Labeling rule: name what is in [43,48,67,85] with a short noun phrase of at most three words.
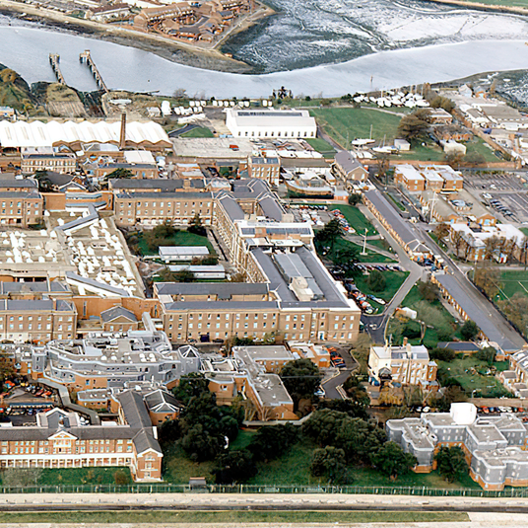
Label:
pier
